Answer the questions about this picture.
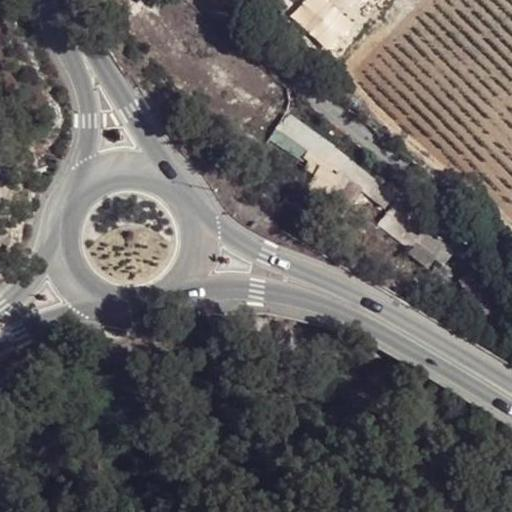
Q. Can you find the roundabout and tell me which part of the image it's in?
left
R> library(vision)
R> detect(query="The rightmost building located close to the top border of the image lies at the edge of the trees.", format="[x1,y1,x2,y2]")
[290,0,372,52]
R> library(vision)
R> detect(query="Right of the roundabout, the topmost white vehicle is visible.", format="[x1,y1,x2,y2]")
[268,256,291,271]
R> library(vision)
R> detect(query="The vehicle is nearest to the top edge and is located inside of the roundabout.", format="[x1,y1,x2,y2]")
[159,161,176,180]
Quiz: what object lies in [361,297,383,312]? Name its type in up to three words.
car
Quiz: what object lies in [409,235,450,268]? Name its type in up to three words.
building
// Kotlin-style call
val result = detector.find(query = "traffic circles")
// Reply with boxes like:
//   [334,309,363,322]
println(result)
[44,152,218,326]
